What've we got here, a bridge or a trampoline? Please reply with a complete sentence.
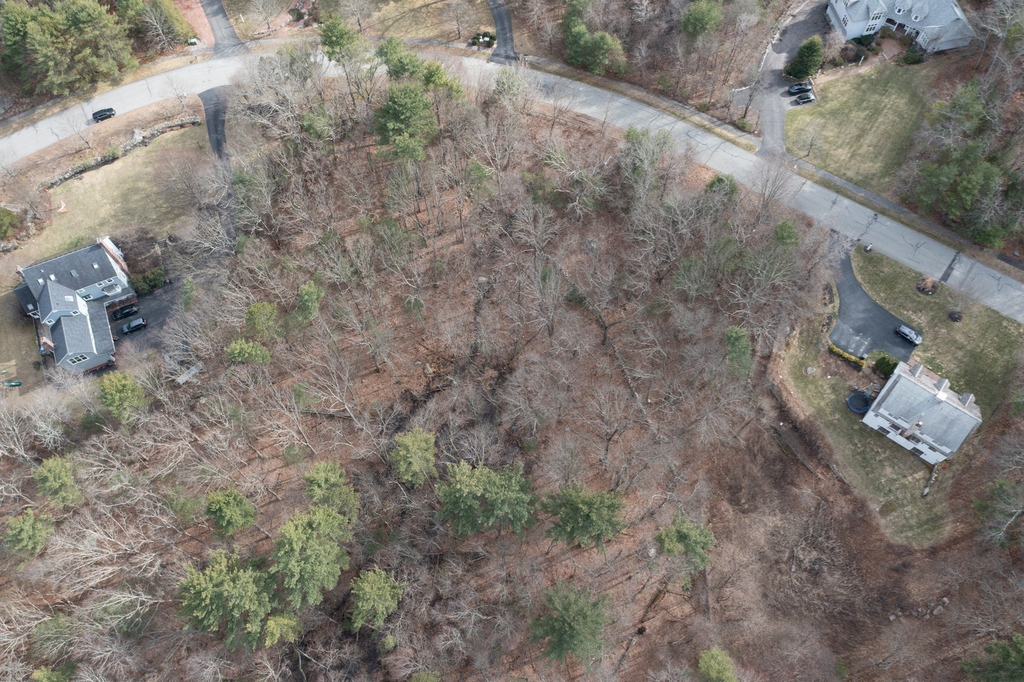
This aerial view contains a trampoline.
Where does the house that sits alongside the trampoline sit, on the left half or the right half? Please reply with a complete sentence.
It is on the right.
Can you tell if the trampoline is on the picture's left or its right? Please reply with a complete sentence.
The trampoline sits on the right side.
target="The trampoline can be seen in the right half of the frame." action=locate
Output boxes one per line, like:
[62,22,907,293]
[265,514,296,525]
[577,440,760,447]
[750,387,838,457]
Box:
[845,386,875,413]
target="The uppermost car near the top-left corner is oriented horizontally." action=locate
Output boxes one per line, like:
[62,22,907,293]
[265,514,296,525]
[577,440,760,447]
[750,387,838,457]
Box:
[92,109,117,122]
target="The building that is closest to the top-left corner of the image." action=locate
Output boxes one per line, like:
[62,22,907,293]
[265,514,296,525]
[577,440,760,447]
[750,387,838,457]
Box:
[12,232,138,376]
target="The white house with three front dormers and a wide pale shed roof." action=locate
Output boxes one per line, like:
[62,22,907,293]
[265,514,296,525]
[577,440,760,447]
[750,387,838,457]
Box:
[862,364,982,469]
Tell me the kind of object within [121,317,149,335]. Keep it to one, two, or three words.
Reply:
car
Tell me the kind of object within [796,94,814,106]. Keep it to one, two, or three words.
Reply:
vehicle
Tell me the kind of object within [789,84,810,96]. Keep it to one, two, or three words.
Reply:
vehicle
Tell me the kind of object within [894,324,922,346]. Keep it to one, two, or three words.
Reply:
car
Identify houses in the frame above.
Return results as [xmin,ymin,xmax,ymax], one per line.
[12,232,138,376]
[862,364,982,469]
[827,0,984,52]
